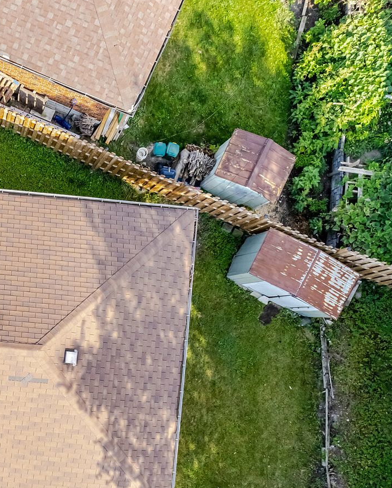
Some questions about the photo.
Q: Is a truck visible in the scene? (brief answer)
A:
No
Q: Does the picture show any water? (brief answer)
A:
No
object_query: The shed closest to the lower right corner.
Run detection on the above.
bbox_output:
[231,228,362,320]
